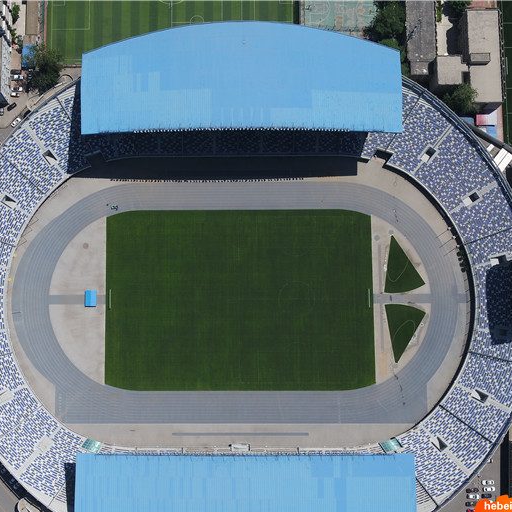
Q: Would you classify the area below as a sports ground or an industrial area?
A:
sports ground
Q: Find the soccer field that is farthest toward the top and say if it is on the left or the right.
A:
left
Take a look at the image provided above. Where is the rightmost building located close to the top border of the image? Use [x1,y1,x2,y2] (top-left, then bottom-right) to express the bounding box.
[456,9,502,110]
